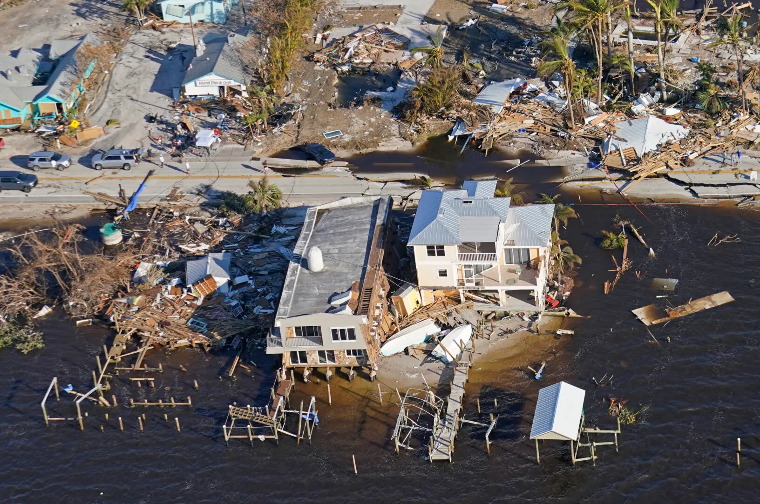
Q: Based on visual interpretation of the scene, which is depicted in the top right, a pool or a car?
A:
pool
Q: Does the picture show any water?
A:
Yes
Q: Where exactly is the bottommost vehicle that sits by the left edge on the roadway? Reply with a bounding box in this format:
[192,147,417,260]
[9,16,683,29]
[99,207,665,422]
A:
[0,169,41,192]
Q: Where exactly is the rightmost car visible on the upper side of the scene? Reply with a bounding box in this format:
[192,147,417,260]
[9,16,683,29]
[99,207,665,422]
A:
[298,136,338,163]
